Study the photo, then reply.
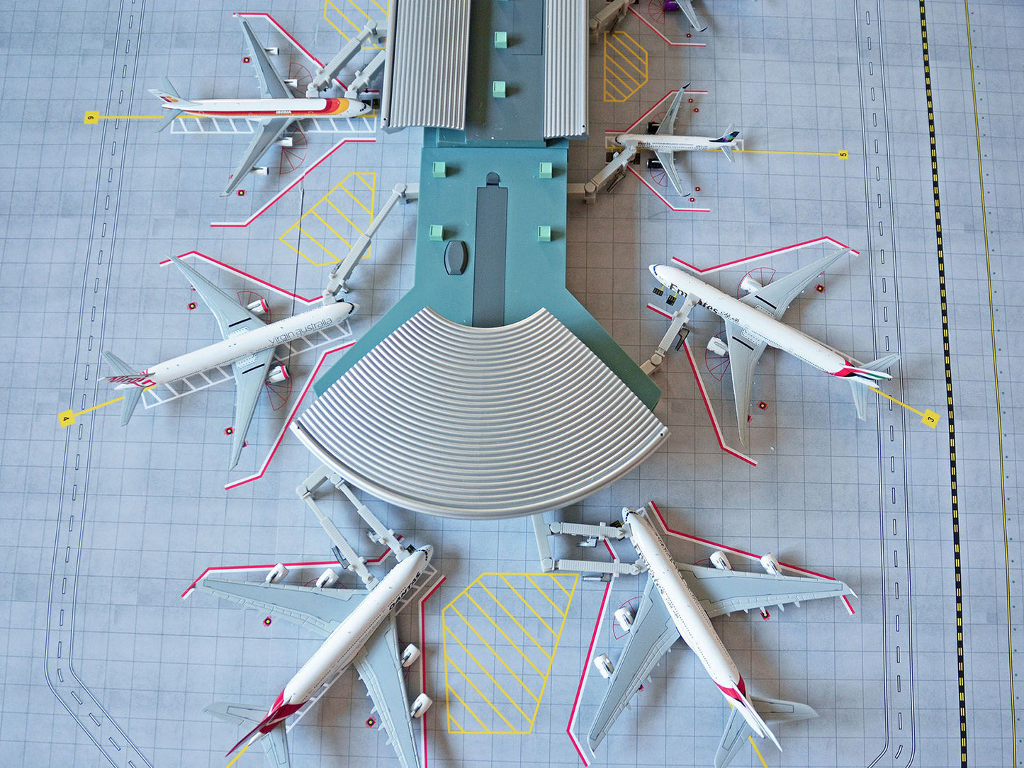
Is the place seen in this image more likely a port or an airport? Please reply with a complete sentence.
This looks like an airport.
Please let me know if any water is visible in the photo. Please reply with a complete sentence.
No, the picture contains no water.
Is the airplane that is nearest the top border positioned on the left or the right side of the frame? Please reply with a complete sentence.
The airplane that is nearest the top border is on the right side of the image.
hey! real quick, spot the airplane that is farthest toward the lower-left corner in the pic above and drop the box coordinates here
[181,546,433,768]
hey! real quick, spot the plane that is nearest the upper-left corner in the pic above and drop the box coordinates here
[149,10,372,197]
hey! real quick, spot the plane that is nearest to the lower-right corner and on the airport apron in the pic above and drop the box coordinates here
[588,510,860,768]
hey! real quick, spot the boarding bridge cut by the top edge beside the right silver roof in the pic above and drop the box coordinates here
[589,0,634,48]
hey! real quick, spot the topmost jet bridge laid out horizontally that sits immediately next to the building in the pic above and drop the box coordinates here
[549,520,625,547]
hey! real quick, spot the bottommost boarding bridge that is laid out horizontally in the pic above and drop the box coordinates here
[541,556,645,582]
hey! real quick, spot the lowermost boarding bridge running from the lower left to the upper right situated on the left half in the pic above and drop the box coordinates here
[323,183,420,306]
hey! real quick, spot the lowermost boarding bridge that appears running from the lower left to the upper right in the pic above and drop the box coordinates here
[639,295,698,376]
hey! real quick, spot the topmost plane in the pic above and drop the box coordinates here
[659,0,703,34]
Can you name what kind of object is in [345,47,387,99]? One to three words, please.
jet bridge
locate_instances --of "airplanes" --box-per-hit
[181,546,433,768]
[100,256,359,468]
[648,247,900,446]
[149,10,372,197]
[615,84,739,197]
[659,0,703,34]
[588,510,860,768]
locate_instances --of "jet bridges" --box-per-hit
[589,0,634,48]
[345,47,387,99]
[295,485,380,591]
[639,295,698,376]
[541,556,645,582]
[323,183,420,306]
[329,473,409,561]
[549,520,625,547]
[307,20,389,98]
[568,136,638,209]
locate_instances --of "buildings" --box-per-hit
[290,0,672,522]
